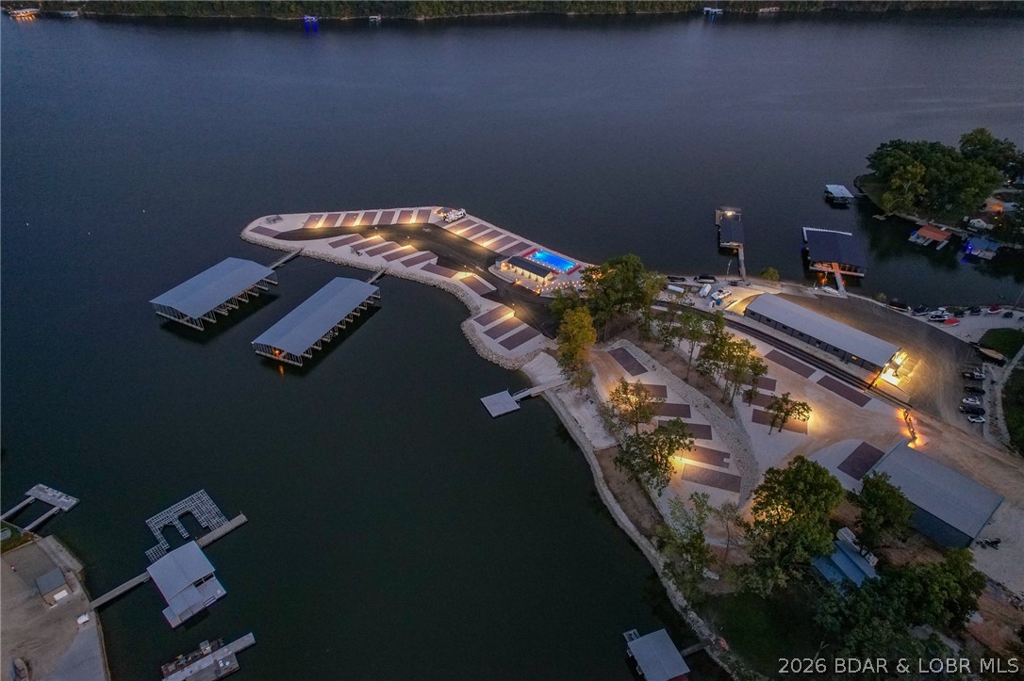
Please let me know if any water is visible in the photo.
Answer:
Yes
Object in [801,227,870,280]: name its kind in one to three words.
pier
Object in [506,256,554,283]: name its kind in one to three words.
building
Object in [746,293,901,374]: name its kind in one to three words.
building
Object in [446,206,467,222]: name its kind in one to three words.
camper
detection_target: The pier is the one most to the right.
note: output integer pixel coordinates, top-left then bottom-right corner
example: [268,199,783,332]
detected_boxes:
[966,237,1000,266]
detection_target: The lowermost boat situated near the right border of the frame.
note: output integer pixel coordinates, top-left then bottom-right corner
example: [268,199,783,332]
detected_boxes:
[984,345,1010,364]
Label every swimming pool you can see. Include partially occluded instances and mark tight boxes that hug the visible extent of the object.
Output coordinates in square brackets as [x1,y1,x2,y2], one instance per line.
[529,247,579,271]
